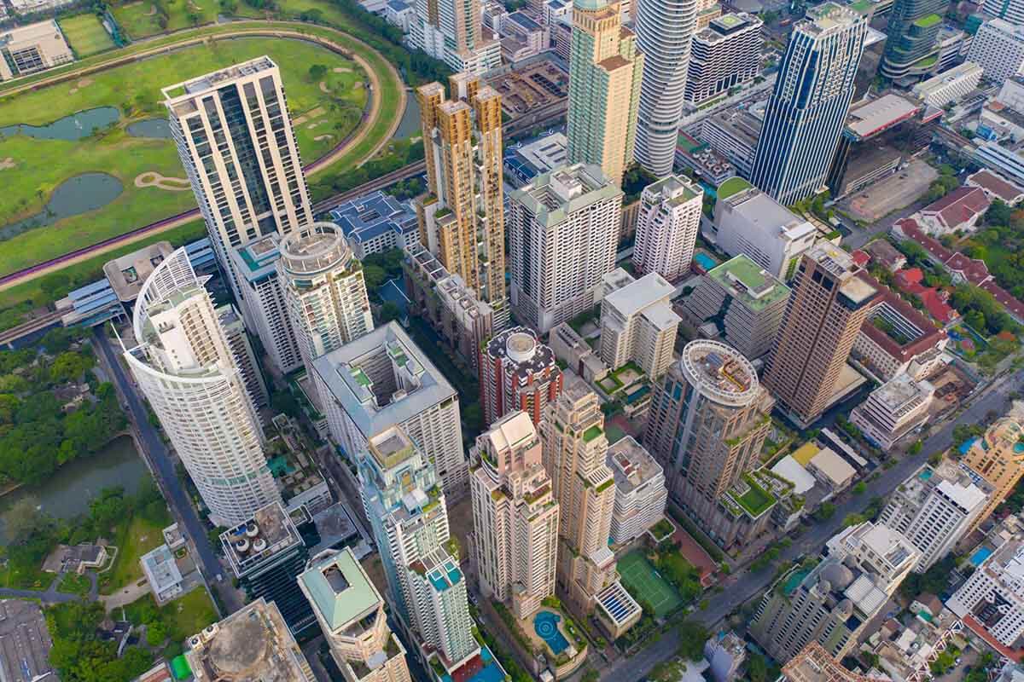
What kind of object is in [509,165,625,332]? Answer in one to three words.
building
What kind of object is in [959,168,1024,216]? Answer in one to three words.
house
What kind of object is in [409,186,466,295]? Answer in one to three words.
building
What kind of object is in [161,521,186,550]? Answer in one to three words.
house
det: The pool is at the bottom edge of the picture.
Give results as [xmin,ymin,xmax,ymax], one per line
[534,611,569,655]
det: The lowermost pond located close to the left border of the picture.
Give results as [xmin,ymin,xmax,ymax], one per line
[0,172,124,241]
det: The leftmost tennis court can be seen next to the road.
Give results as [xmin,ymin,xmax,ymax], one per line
[618,549,681,614]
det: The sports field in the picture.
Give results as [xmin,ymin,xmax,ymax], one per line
[59,15,114,57]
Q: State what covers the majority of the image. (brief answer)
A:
buildings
